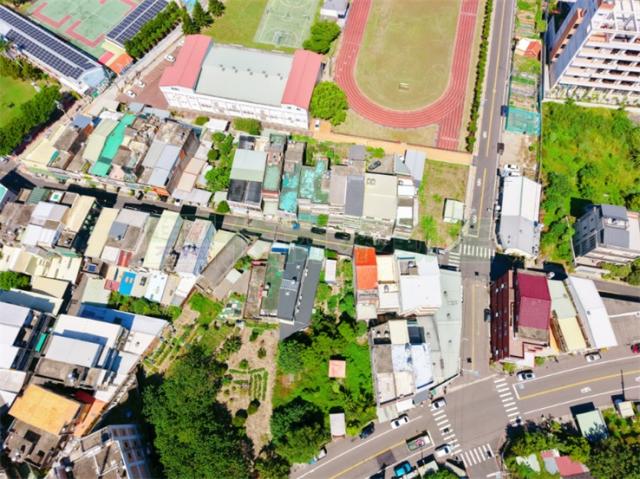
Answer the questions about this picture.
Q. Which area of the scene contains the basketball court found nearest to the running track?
top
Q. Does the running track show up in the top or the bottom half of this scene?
top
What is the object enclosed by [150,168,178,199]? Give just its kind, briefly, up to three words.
house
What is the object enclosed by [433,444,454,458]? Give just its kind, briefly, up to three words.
vehicle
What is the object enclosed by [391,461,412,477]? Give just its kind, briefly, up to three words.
car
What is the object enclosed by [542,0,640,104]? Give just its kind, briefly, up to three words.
building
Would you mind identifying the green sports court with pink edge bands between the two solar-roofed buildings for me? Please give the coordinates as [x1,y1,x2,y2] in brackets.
[24,0,130,64]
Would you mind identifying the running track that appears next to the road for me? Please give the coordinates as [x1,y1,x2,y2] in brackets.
[337,0,478,148]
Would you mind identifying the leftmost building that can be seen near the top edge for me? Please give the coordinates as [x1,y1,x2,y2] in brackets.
[0,0,104,91]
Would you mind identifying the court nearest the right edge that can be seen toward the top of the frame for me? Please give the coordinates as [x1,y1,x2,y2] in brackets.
[253,0,315,48]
